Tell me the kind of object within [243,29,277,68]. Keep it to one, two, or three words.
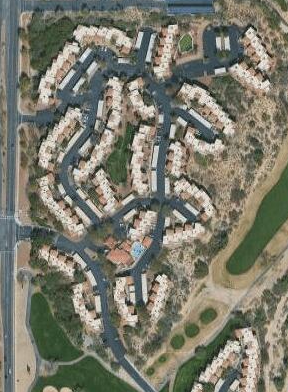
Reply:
building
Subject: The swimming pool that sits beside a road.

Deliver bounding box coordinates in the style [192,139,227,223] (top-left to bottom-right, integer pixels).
[130,242,147,262]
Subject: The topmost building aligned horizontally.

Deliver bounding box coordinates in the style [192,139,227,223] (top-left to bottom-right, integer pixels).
[75,23,134,51]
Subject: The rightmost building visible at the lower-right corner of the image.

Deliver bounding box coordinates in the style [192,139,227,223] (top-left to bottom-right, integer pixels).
[239,331,264,392]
